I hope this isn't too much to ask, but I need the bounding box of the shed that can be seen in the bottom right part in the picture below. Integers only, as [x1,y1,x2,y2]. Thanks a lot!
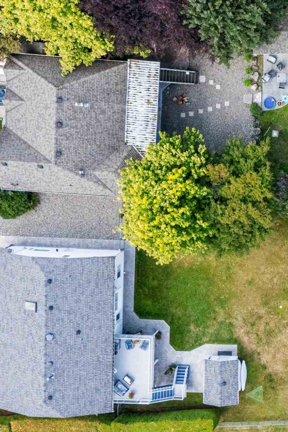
[204,357,238,407]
